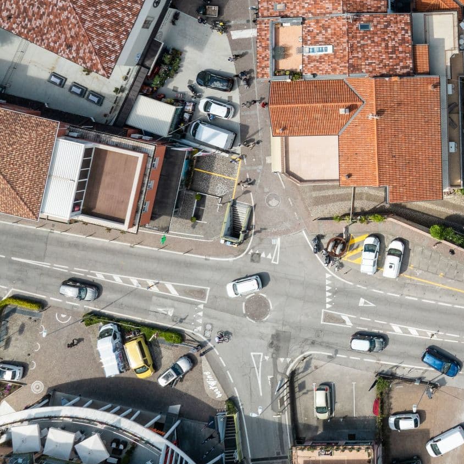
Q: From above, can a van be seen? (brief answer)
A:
Yes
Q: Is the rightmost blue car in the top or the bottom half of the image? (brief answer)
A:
bottom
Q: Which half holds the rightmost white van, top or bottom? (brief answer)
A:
bottom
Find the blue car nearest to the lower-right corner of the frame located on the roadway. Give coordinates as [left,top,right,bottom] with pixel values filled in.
[421,345,462,375]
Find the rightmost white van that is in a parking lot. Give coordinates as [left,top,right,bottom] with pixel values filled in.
[426,424,464,456]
